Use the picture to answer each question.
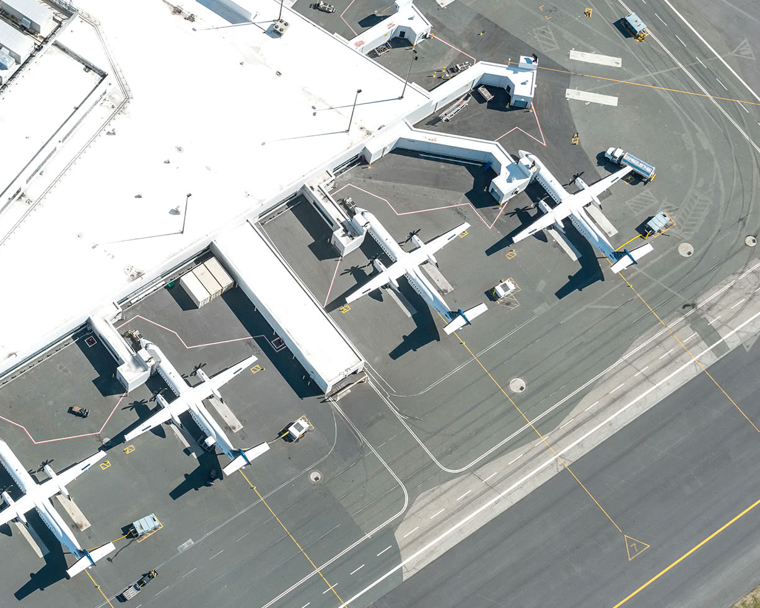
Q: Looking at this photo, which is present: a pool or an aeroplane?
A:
aeroplane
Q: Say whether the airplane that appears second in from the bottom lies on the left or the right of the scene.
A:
left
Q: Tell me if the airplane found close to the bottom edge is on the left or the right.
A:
left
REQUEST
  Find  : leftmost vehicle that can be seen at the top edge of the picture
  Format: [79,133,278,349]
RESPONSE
[315,0,335,14]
